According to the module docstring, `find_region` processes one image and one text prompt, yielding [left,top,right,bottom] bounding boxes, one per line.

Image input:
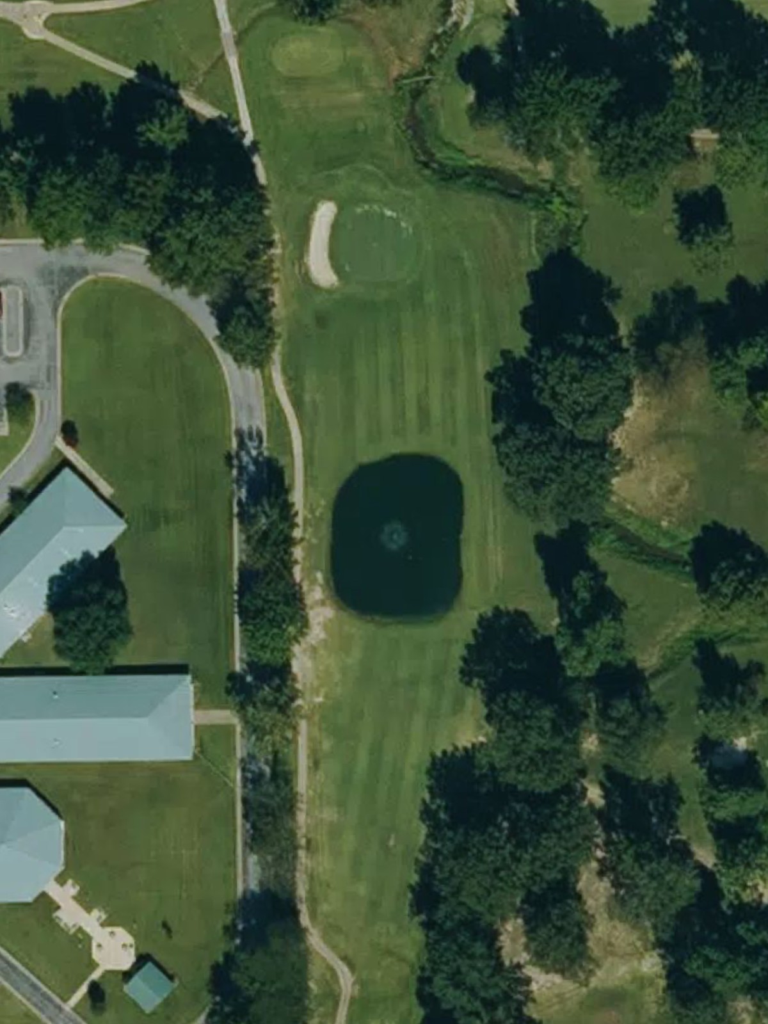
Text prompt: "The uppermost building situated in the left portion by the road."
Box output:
[0,464,127,650]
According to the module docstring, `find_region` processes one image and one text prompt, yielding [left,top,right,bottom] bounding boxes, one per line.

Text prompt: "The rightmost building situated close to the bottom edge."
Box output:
[124,961,176,1013]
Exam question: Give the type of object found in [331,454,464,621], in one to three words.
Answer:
pond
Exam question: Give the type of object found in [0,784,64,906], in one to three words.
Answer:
building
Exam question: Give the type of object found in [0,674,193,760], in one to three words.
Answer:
building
